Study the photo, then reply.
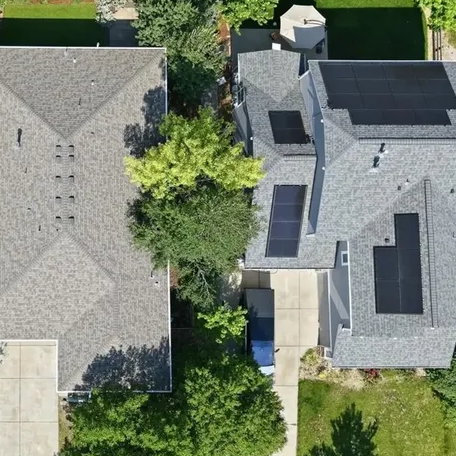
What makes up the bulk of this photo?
buildings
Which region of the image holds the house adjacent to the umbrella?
right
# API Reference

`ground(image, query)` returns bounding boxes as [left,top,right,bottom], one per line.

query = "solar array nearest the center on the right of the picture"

[267,186,308,257]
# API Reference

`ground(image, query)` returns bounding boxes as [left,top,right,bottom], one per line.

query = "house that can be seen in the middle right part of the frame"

[234,39,456,370]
